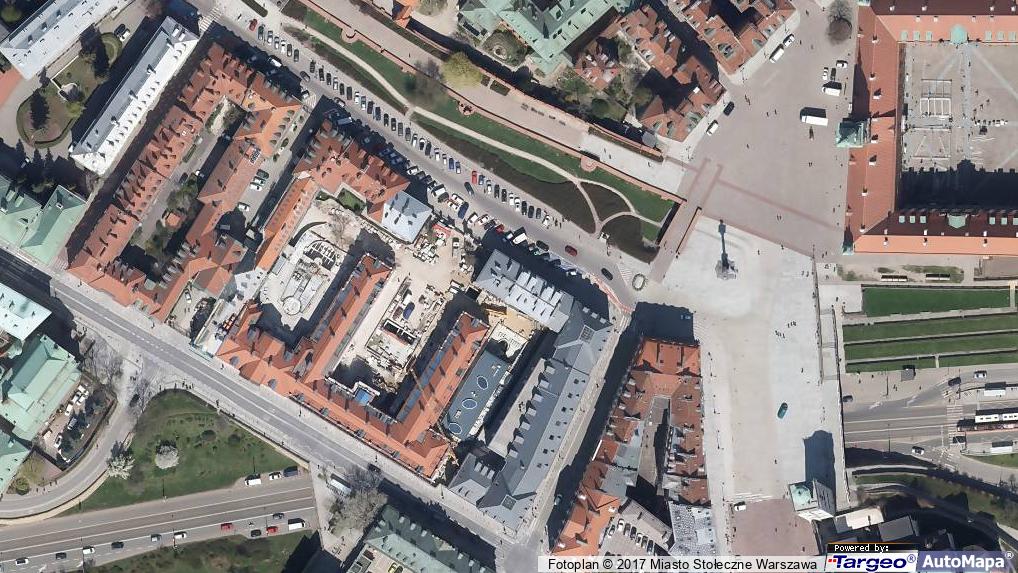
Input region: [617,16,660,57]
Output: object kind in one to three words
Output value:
house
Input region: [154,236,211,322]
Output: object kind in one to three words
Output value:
building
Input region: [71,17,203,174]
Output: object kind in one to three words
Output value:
building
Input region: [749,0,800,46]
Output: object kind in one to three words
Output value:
house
